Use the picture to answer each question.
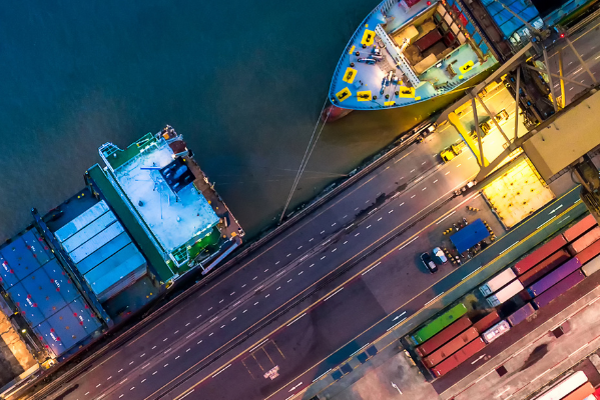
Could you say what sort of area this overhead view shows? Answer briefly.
port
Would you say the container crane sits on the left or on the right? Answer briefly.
right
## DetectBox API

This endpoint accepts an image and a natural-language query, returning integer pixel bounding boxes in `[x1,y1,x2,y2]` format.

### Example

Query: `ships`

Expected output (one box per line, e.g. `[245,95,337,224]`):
[321,0,493,123]
[0,129,243,400]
